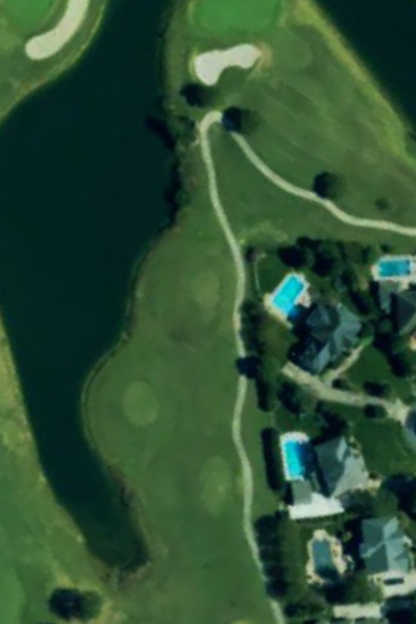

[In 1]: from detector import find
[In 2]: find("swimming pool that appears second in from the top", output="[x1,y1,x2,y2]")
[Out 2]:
[265,272,313,328]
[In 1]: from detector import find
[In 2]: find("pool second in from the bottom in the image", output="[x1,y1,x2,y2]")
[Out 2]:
[280,432,318,480]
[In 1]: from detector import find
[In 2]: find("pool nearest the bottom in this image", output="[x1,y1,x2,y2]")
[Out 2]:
[306,530,347,584]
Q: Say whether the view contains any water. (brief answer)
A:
Yes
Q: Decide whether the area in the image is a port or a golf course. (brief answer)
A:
golf course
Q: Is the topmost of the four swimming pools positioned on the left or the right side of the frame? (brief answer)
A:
right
